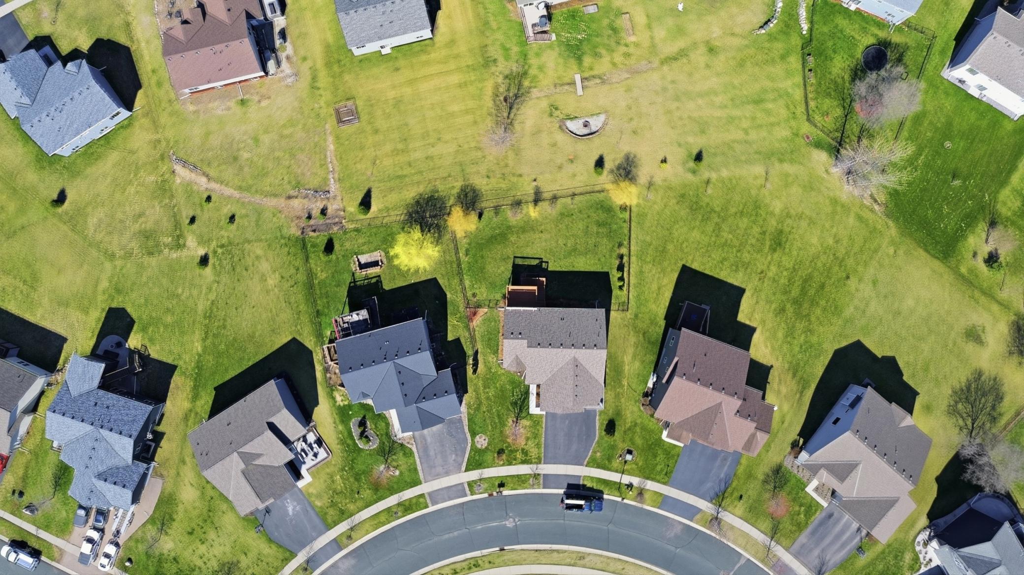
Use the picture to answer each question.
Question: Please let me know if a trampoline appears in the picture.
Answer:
Yes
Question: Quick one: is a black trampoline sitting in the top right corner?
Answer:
Yes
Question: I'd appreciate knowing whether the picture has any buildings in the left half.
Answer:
Yes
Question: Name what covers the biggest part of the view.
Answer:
grass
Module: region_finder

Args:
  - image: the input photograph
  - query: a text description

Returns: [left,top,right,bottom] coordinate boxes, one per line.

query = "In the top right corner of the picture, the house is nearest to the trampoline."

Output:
[842,0,922,33]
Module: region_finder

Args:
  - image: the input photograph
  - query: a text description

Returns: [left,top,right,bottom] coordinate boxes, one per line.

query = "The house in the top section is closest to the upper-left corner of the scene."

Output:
[0,40,134,158]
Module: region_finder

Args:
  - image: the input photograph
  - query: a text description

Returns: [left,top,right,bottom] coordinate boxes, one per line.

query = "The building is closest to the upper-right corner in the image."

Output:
[950,2,1024,114]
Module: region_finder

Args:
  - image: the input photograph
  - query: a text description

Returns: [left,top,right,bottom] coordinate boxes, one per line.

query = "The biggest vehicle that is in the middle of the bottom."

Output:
[564,498,605,516]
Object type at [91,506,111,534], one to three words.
car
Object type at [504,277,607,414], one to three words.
house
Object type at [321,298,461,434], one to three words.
house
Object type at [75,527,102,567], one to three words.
truck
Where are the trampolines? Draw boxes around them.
[863,42,897,72]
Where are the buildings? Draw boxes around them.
[925,510,1024,575]
[515,0,557,45]
[321,298,461,434]
[41,353,169,509]
[157,0,270,102]
[842,0,922,33]
[950,2,1024,114]
[0,40,134,158]
[336,0,432,55]
[504,277,607,414]
[188,379,314,517]
[641,302,775,458]
[792,381,932,544]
